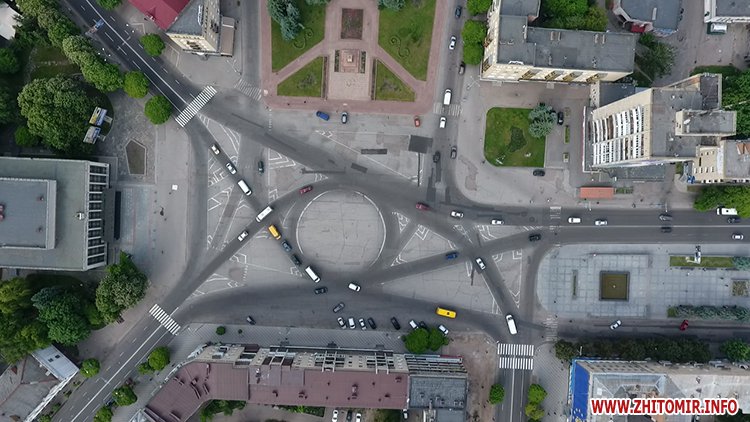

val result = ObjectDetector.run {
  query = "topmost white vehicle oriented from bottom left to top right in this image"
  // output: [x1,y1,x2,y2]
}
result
[257,207,272,220]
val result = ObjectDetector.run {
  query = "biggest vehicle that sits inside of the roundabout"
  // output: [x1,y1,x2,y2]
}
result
[305,265,319,281]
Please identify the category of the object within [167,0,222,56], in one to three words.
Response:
house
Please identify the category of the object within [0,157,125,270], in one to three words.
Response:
building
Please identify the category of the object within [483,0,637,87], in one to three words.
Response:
building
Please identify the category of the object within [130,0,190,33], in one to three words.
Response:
house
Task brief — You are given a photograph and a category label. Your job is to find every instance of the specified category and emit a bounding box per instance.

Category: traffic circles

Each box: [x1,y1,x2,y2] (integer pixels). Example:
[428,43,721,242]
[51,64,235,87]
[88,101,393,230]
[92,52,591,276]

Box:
[285,176,397,288]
